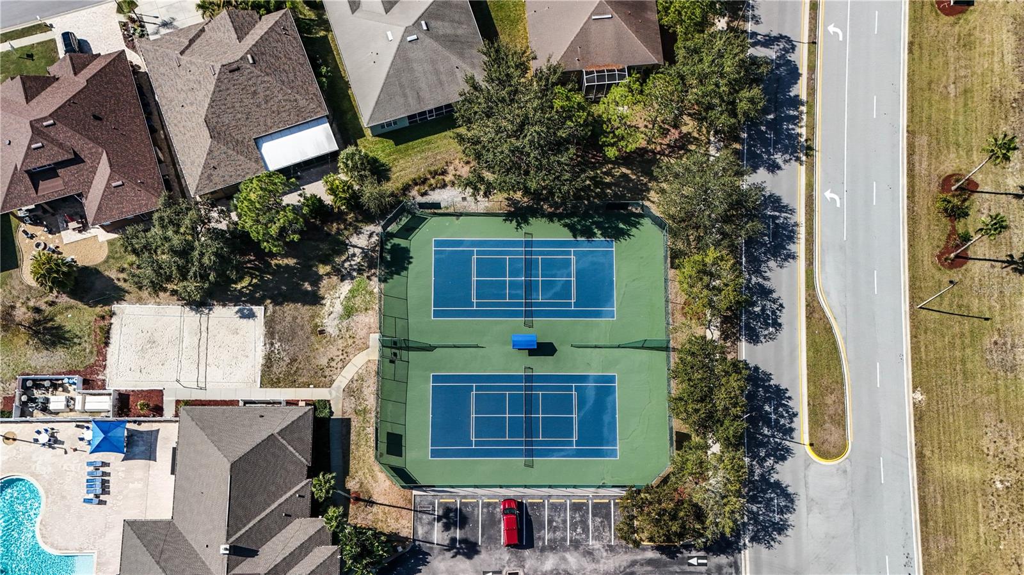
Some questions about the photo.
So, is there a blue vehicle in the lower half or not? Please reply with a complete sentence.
No, the scene shows no blue vehicle in the lower half.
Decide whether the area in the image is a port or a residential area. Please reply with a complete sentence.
The picture captures a residential area.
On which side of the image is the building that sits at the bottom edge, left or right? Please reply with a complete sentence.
The building that sits at the bottom edge appears in the left half of the scene.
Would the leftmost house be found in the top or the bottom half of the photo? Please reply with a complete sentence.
It is in the top half that the leftmost house appears.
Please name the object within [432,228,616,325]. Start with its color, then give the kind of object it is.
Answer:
blue tennis court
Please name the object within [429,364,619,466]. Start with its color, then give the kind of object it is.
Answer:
blue tennis court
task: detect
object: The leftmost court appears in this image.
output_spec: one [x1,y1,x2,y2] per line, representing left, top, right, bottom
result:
[106,305,264,389]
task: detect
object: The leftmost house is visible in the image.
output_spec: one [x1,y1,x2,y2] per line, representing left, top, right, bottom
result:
[0,49,170,229]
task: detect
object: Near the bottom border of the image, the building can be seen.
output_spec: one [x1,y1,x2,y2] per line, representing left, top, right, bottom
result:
[118,407,342,575]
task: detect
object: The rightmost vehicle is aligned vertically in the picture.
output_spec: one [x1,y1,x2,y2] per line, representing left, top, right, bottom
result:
[500,499,519,548]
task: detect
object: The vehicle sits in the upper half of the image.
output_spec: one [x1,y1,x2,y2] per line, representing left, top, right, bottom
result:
[61,28,79,54]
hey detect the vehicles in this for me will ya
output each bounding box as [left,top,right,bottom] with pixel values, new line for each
[61,28,79,54]
[500,499,519,548]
